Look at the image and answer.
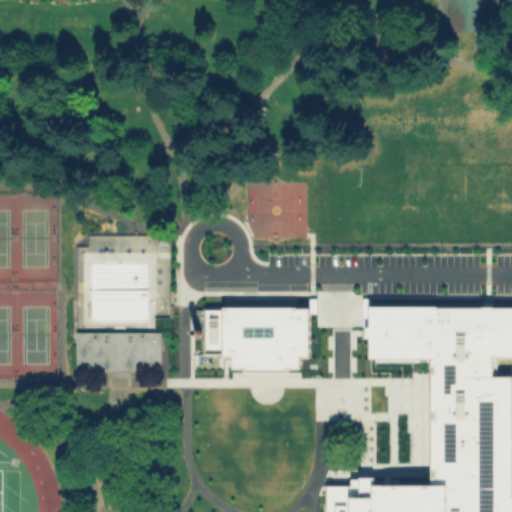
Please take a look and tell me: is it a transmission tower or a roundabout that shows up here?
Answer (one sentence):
The image shows a roundabout.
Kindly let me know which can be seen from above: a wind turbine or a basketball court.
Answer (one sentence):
It is a basketball court that can be seen here.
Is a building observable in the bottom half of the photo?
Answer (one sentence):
Yes, in the bottom half of the photo there is a building.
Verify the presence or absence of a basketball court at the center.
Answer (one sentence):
Yes, at the center there is a basketball court.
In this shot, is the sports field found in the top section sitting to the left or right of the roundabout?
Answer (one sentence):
The sports field found in the top section is to the right of the roundabout.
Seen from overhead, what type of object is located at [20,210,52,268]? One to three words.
tennis court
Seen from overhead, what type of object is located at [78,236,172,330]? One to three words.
building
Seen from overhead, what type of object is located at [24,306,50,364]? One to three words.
tennis court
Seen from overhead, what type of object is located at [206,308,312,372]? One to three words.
building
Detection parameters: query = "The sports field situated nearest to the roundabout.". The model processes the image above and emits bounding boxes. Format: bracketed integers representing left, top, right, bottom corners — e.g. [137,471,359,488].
[316,88,512,244]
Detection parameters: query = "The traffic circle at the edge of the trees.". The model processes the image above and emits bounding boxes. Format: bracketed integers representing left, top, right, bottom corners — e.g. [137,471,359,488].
[184,217,270,291]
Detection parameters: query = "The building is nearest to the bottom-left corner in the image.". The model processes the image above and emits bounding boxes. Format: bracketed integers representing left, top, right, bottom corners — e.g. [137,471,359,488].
[77,333,163,388]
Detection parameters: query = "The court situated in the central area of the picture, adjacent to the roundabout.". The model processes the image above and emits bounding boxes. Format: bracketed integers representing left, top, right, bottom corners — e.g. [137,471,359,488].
[247,180,308,242]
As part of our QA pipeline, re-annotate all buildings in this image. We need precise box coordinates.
[320,306,512,512]
[78,236,172,330]
[77,333,163,388]
[206,308,312,372]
